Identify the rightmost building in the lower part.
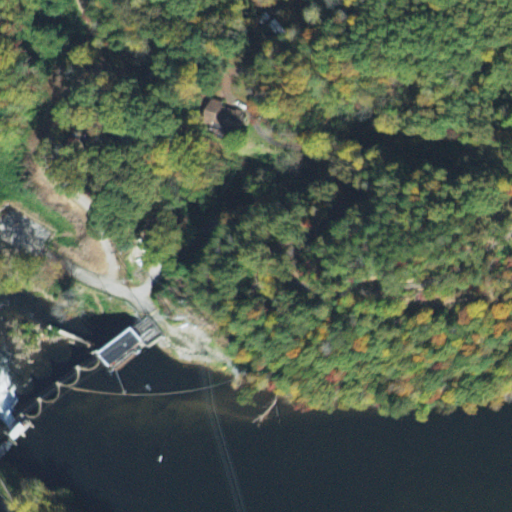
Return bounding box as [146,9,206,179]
[97,326,145,370]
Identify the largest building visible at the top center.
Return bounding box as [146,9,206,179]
[204,99,242,134]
